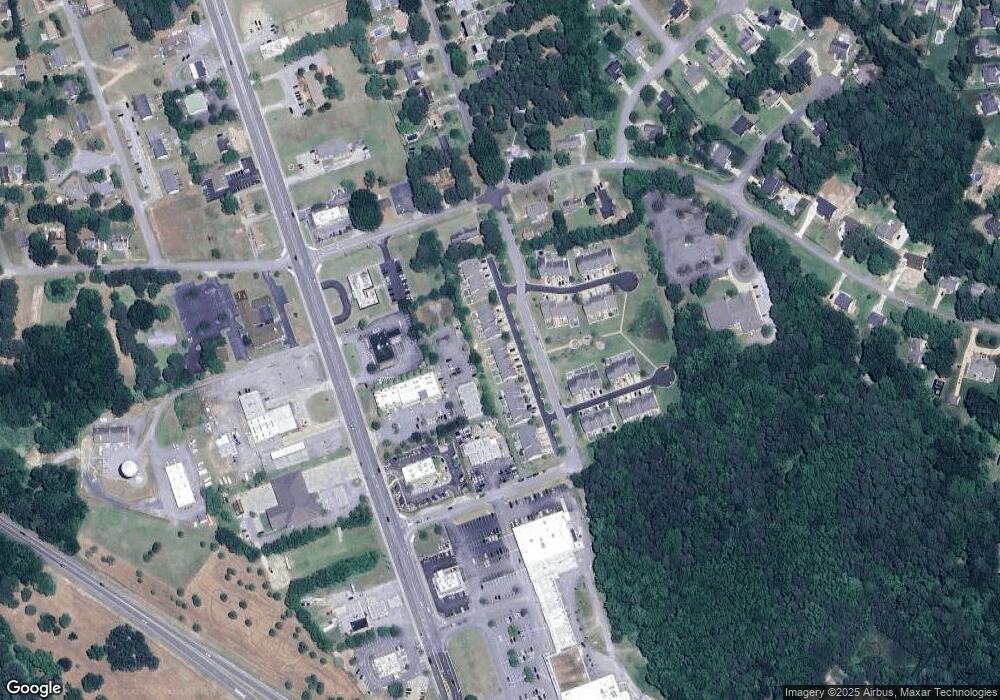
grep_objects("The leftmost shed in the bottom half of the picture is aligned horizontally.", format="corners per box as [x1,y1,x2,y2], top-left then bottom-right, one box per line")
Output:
[93,427,129,442]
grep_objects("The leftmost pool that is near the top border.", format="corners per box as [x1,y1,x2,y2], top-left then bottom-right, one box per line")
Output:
[369,24,389,38]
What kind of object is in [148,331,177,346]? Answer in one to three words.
barn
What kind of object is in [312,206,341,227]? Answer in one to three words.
building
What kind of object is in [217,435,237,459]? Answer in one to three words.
shed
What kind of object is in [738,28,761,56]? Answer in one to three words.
house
